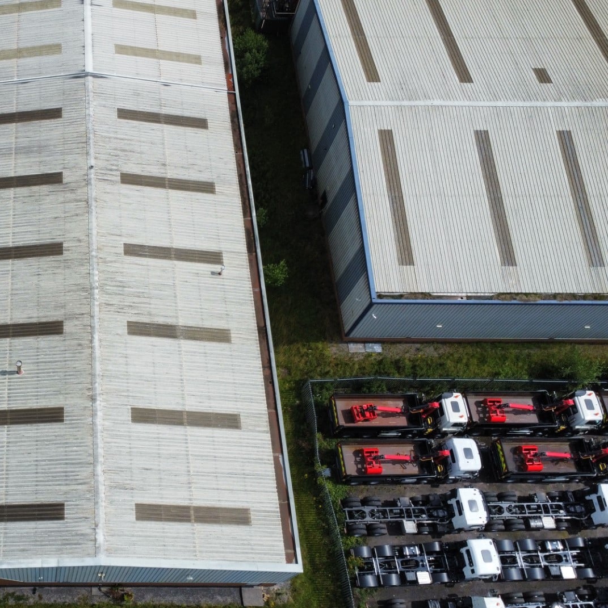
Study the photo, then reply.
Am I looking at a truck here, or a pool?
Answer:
truck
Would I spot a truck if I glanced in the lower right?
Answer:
Yes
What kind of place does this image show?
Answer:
industrial area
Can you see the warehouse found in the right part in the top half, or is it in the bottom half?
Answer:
top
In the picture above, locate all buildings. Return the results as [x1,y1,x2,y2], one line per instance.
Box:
[292,0,608,340]
[0,0,302,588]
